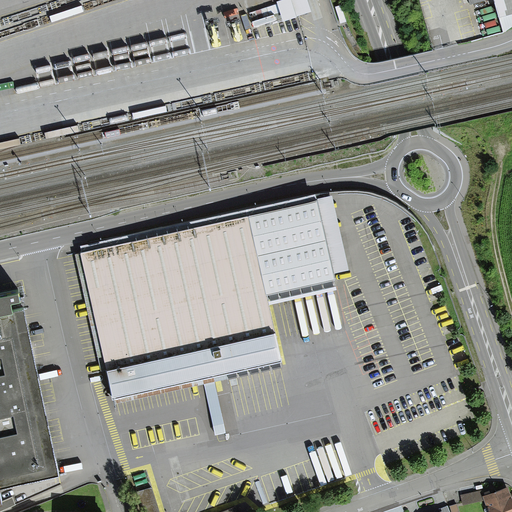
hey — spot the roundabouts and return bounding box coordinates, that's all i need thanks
[378,130,469,218]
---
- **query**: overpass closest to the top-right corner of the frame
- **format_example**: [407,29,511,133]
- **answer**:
[352,28,512,84]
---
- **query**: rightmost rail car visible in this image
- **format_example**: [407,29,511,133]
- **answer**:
[260,72,310,88]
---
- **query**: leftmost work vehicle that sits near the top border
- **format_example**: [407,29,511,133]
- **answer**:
[205,19,222,46]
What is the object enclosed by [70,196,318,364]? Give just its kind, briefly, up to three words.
warehouse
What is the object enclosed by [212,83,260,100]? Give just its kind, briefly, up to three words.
rail car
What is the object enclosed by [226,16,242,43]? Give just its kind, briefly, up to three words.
work vehicle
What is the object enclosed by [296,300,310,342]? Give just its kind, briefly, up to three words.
vehicle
